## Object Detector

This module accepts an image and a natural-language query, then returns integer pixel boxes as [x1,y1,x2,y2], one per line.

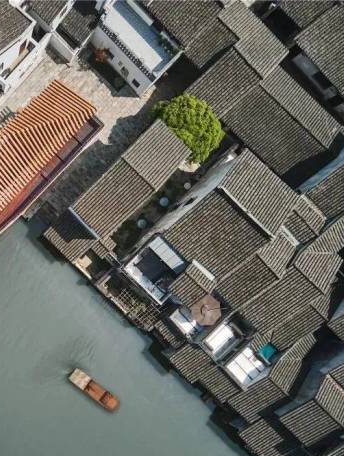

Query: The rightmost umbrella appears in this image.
[189,294,221,325]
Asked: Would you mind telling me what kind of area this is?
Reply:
residential area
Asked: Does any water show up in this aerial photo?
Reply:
Yes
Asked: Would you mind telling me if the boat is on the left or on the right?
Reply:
left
